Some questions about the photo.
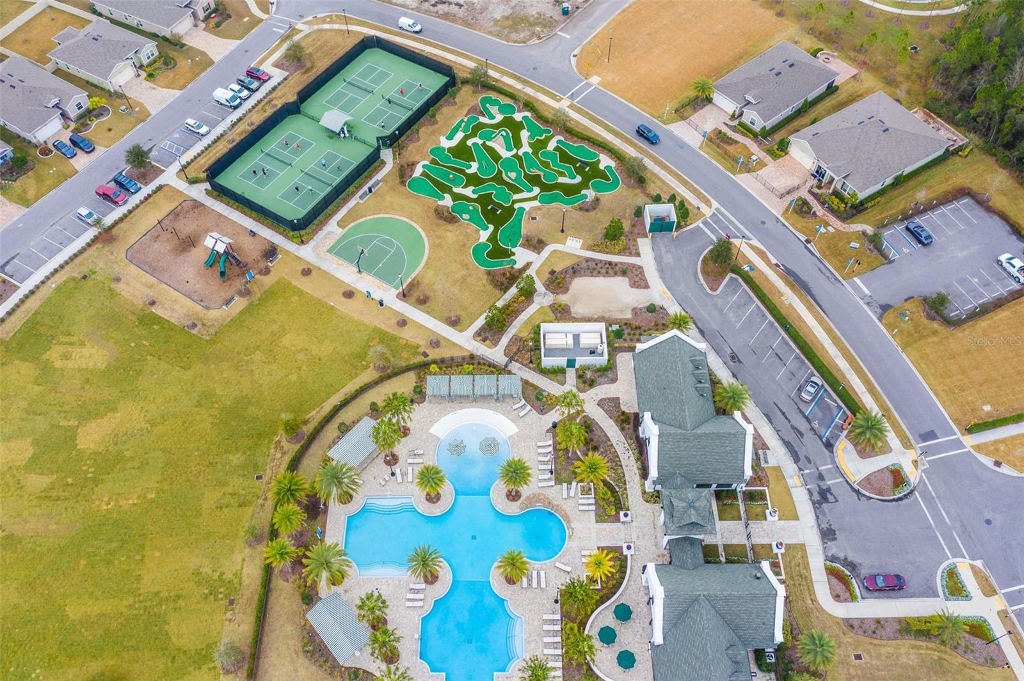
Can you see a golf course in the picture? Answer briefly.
Yes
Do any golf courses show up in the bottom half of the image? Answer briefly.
No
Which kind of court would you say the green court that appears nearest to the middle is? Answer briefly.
basketball court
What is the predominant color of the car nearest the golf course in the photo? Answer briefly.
blue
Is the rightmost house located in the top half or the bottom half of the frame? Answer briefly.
top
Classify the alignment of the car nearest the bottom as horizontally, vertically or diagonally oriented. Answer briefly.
horizontally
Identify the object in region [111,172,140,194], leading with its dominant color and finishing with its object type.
blue car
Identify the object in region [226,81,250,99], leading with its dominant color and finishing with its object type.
white car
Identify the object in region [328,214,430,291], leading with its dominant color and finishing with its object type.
green basketball court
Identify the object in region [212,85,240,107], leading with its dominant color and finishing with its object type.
white vehicle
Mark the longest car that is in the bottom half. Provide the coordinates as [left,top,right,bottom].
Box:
[864,573,911,593]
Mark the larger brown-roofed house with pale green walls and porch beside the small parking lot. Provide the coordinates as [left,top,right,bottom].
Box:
[788,89,949,202]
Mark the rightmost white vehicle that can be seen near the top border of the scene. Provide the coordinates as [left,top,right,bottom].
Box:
[397,14,422,32]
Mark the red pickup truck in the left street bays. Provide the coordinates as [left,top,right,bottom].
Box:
[93,182,126,205]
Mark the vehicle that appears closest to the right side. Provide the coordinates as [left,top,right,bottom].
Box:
[999,251,1024,282]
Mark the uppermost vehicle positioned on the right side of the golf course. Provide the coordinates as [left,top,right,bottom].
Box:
[635,122,662,144]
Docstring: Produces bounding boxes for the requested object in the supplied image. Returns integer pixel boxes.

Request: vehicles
[67,131,94,152]
[226,81,250,99]
[864,573,911,593]
[245,64,269,82]
[397,14,422,32]
[799,374,826,404]
[235,73,259,91]
[51,138,75,157]
[999,251,1024,282]
[212,85,240,107]
[635,122,662,144]
[111,172,140,194]
[93,182,126,205]
[906,220,937,246]
[73,205,98,224]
